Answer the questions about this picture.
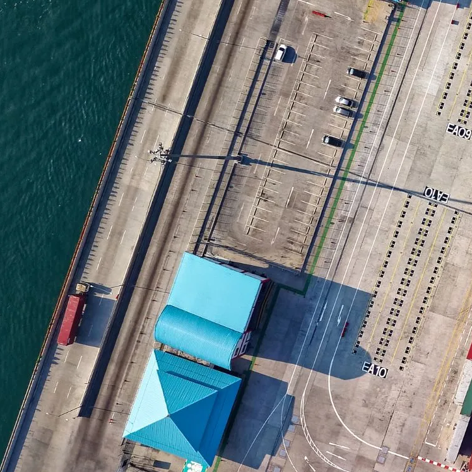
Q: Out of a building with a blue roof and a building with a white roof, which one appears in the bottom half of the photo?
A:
building with a blue roof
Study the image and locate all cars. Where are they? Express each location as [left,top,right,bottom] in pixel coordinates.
[332,106,353,118]
[336,97,355,109]
[348,67,367,79]
[322,136,342,148]
[274,43,289,64]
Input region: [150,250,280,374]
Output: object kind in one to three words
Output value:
building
